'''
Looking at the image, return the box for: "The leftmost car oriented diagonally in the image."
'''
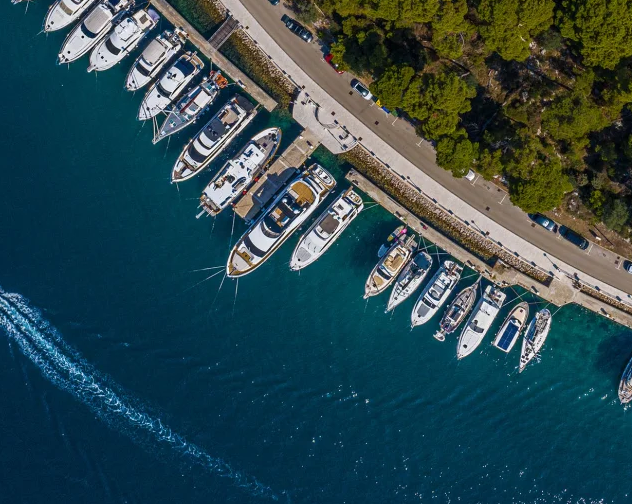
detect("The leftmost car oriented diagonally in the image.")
[284,16,311,42]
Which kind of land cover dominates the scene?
water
